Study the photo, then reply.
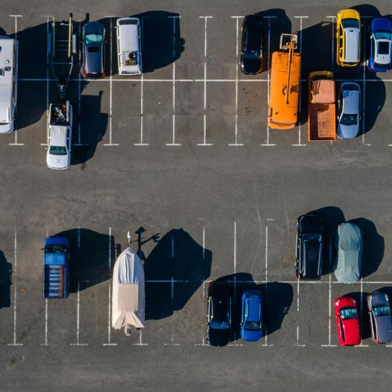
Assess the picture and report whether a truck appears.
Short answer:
Yes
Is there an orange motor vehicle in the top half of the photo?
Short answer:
Yes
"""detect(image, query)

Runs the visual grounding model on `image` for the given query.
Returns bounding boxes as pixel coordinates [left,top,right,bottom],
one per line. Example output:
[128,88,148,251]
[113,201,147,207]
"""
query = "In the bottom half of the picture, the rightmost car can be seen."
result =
[366,291,392,344]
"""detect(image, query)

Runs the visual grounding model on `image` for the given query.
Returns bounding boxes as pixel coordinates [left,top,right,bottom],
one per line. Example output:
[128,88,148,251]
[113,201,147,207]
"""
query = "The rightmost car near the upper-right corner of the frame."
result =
[367,17,392,72]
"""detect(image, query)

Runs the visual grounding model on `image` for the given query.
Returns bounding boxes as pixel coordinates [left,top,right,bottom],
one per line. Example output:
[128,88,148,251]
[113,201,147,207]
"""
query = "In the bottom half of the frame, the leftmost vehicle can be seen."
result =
[42,236,69,300]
